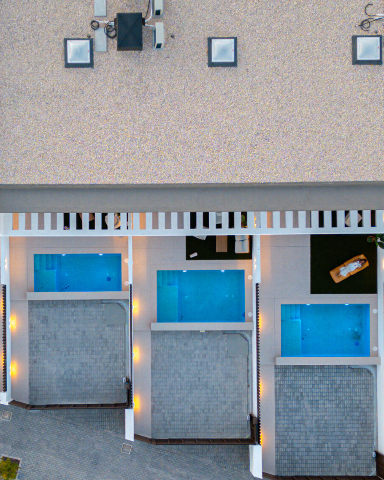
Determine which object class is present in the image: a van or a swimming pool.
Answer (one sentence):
This aerial view contains a swimming pool.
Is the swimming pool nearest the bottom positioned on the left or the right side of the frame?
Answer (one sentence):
You can find the swimming pool nearest the bottom on the right side of the picture.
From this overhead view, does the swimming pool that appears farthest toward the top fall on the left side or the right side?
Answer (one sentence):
The swimming pool that appears farthest toward the top sits on the left side.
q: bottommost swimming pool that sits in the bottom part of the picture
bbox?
[274,304,378,365]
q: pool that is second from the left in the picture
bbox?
[151,270,252,330]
